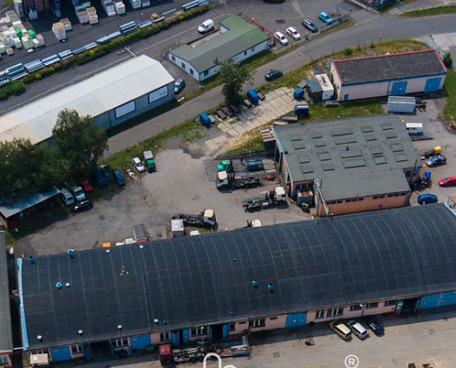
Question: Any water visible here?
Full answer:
No, the scene doesn't show any water.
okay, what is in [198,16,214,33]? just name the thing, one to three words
vehicle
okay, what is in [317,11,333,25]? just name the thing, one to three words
vehicle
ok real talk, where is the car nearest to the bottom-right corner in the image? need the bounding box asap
[365,318,386,336]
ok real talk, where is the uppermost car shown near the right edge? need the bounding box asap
[426,155,448,168]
